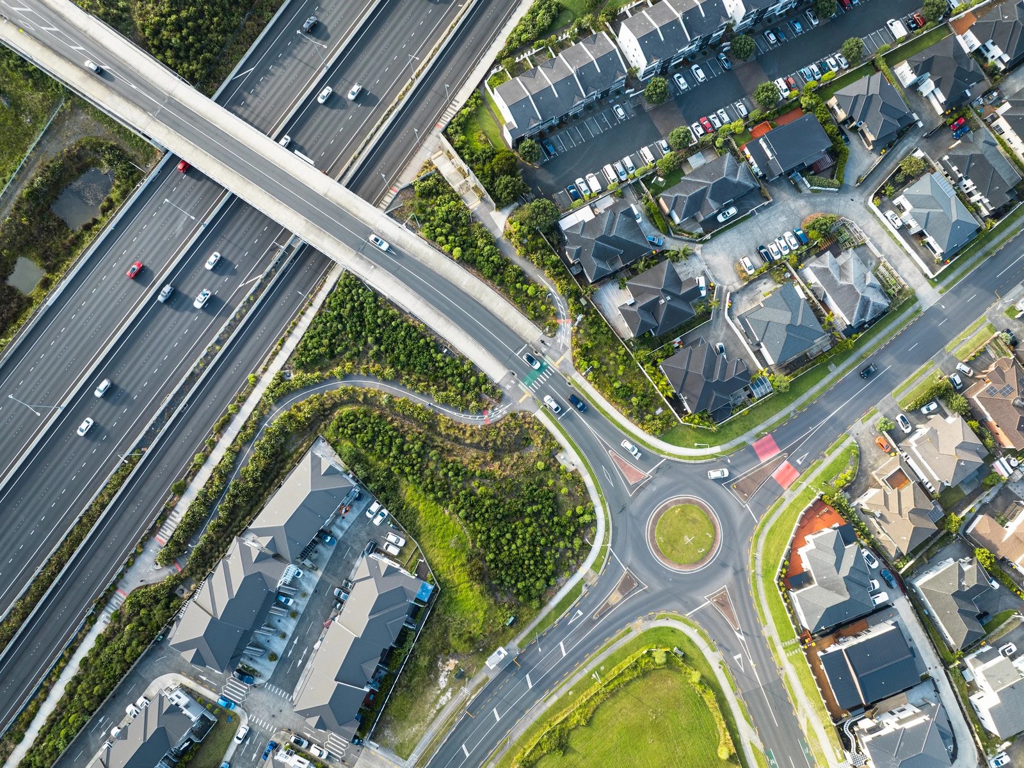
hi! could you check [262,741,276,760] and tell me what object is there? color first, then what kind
blue car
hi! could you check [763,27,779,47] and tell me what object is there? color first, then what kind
blue car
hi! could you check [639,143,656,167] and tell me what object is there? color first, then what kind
white vehicle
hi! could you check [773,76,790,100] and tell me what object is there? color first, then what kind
white vehicle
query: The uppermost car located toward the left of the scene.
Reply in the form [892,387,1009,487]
[301,14,320,35]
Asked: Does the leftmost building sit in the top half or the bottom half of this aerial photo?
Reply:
bottom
